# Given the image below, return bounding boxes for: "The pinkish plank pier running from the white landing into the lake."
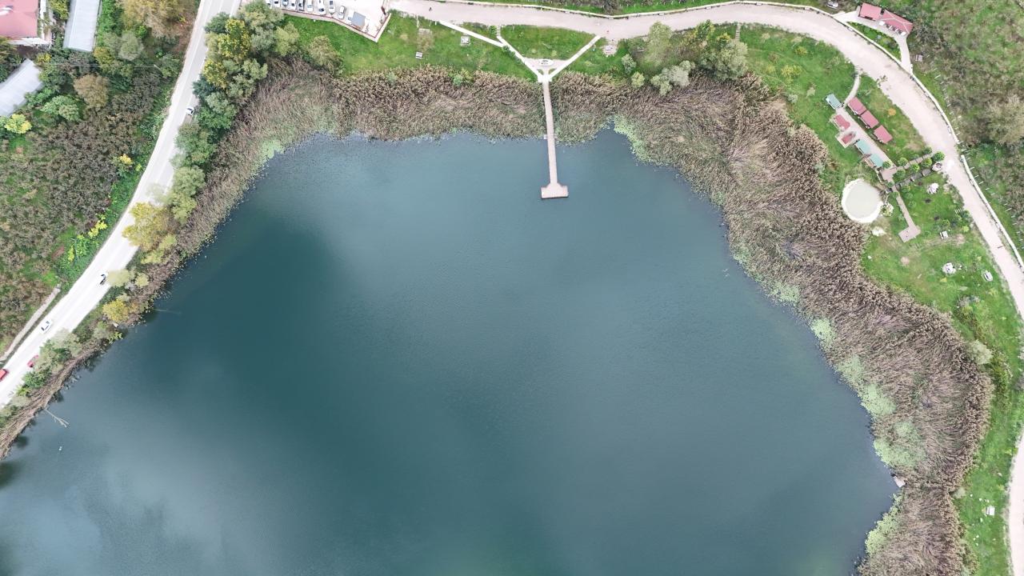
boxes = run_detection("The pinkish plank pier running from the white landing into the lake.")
[541,80,568,198]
